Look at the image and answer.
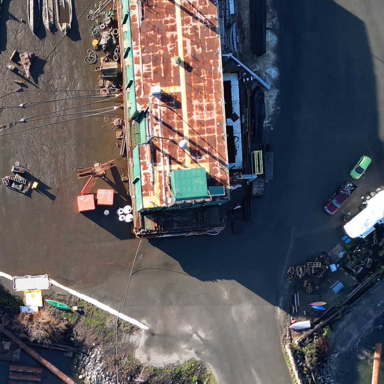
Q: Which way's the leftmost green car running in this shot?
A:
diagonally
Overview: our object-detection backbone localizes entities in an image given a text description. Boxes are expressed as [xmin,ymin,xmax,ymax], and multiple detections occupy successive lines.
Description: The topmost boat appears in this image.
[0,176,31,195]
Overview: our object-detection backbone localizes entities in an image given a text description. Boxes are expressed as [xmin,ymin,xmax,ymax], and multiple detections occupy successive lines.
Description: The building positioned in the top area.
[113,0,259,242]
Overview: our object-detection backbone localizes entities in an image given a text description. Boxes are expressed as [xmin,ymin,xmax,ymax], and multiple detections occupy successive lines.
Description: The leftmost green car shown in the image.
[349,153,373,180]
